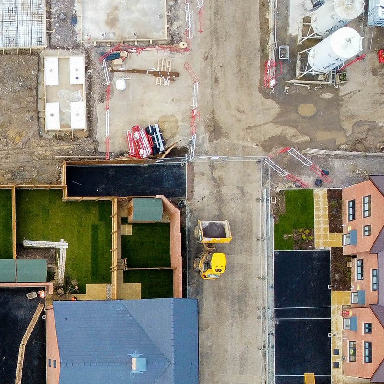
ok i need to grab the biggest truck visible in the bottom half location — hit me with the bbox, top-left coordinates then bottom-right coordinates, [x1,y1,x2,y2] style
[194,221,232,281]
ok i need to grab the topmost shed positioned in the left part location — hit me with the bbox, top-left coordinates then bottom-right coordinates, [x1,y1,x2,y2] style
[128,198,163,223]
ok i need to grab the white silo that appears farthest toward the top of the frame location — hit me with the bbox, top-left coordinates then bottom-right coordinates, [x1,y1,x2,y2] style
[281,0,365,54]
